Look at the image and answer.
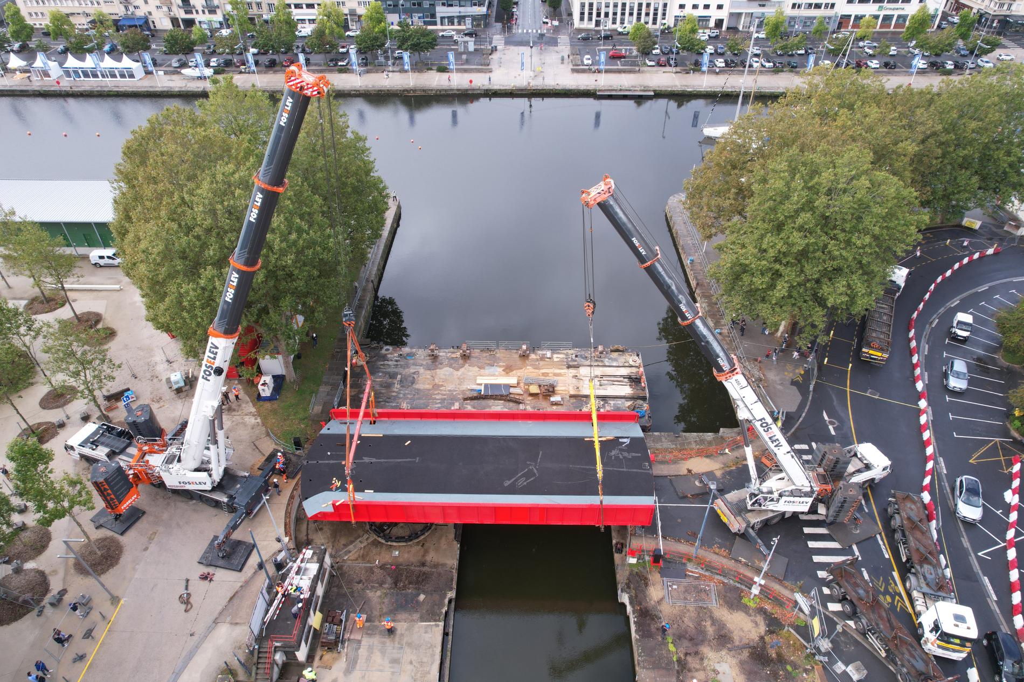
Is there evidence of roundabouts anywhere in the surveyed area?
No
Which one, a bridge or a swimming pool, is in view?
bridge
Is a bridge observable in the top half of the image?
No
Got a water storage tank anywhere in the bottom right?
No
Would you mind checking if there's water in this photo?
Yes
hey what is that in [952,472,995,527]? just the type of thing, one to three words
car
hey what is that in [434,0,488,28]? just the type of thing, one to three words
building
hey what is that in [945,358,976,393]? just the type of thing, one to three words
car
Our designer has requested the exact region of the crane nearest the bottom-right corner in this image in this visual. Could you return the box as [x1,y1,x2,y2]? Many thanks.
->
[578,178,905,577]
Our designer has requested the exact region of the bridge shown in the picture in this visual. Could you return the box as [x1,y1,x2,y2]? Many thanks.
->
[301,410,655,530]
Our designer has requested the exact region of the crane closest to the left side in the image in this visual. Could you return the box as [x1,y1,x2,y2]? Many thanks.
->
[63,60,358,555]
